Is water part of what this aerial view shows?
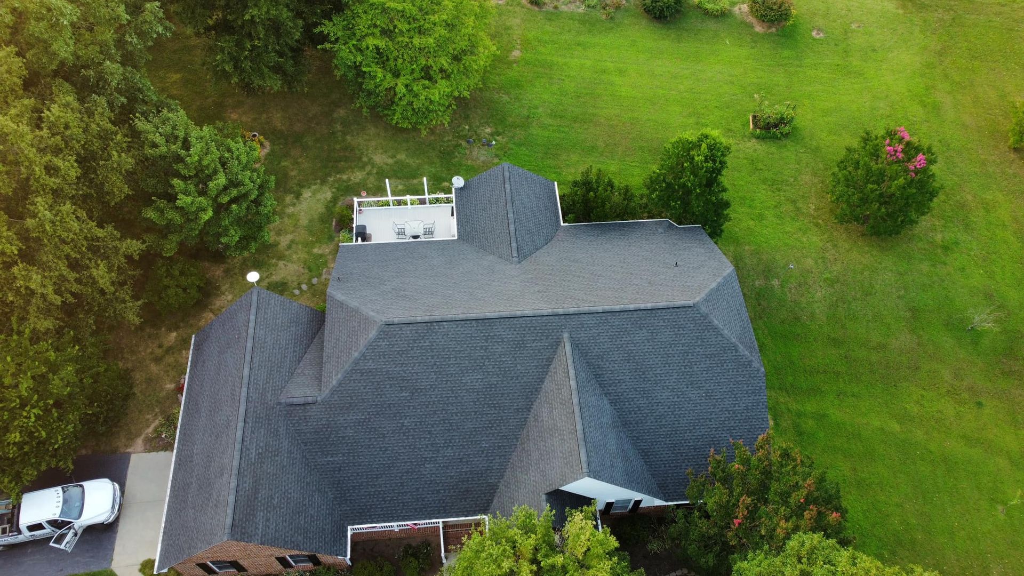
No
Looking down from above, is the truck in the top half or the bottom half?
bottom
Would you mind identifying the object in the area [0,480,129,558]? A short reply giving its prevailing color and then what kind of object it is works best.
white truck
